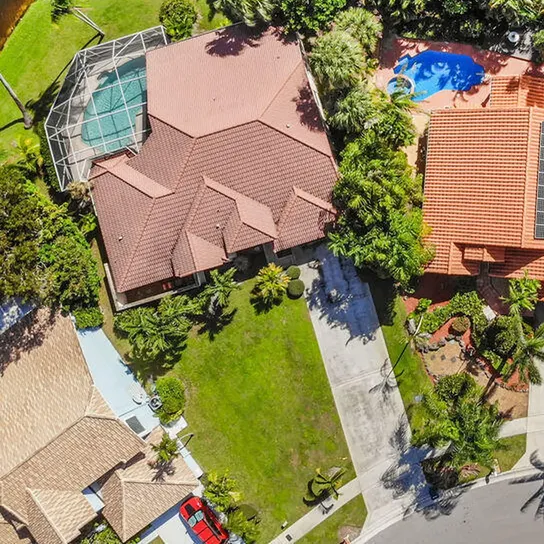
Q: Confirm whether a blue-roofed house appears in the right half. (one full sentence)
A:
No, in the right half there is no blue-roofed house.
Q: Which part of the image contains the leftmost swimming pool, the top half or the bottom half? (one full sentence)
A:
Seen from above, the leftmost swimming pool lies in the top half of the view.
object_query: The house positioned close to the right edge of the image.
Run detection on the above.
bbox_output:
[423,75,544,303]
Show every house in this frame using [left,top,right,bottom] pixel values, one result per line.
[423,75,544,303]
[87,9,338,313]
[0,309,204,544]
